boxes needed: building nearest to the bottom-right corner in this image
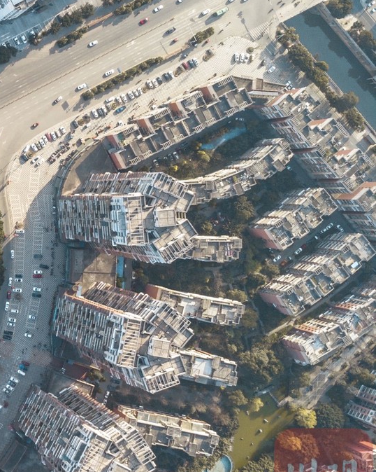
[344,419,376,472]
